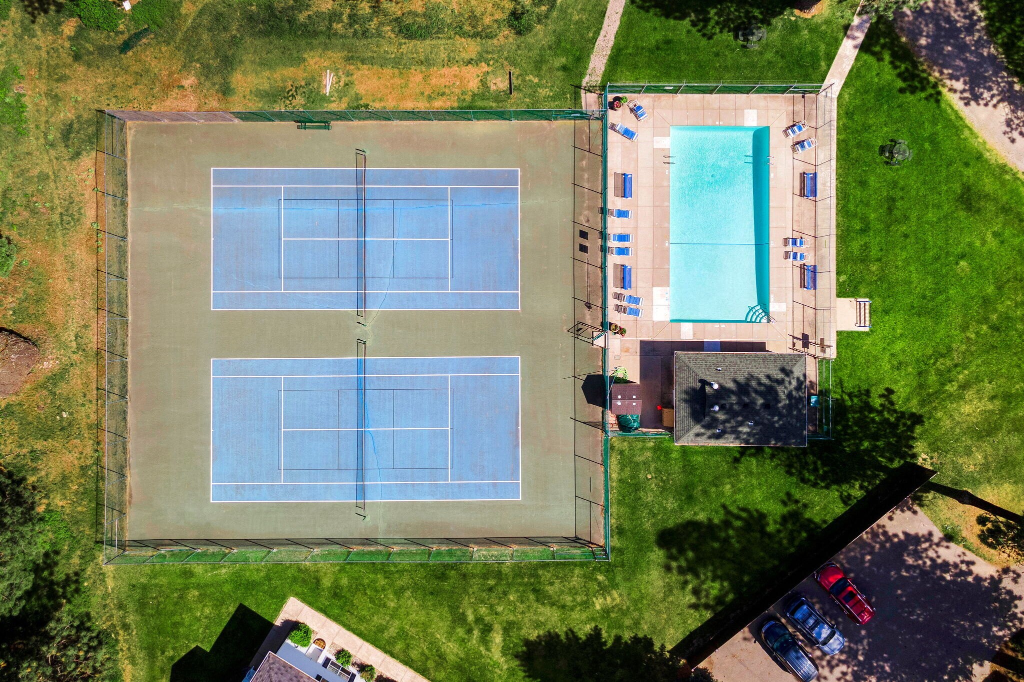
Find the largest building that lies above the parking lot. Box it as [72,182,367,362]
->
[673,351,808,447]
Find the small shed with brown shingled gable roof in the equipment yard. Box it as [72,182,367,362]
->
[610,383,645,414]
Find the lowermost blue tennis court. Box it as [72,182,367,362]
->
[211,344,521,535]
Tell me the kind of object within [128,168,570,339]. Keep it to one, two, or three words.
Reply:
tennis court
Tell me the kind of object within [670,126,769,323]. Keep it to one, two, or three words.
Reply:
swimming pool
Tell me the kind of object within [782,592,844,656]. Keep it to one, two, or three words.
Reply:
car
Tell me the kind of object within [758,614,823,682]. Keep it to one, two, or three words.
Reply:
car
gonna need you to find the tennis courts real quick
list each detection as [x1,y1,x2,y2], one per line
[211,344,521,535]
[128,168,570,339]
